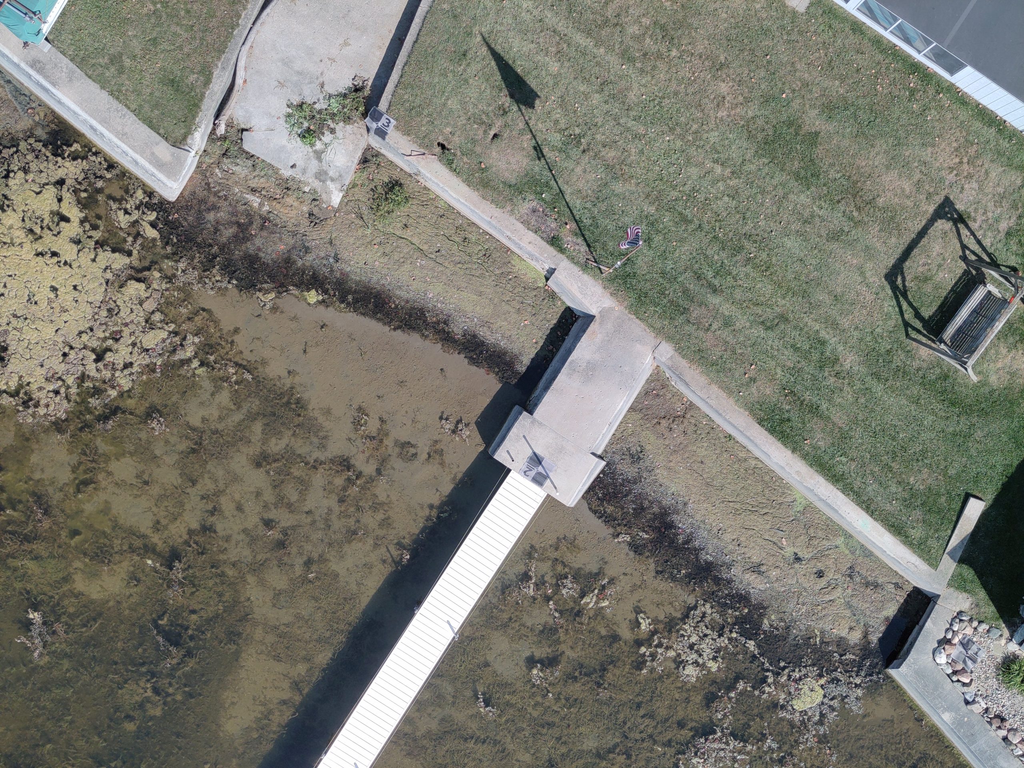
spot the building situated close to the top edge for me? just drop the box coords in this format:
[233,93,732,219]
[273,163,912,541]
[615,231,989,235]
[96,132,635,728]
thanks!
[832,0,1024,133]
